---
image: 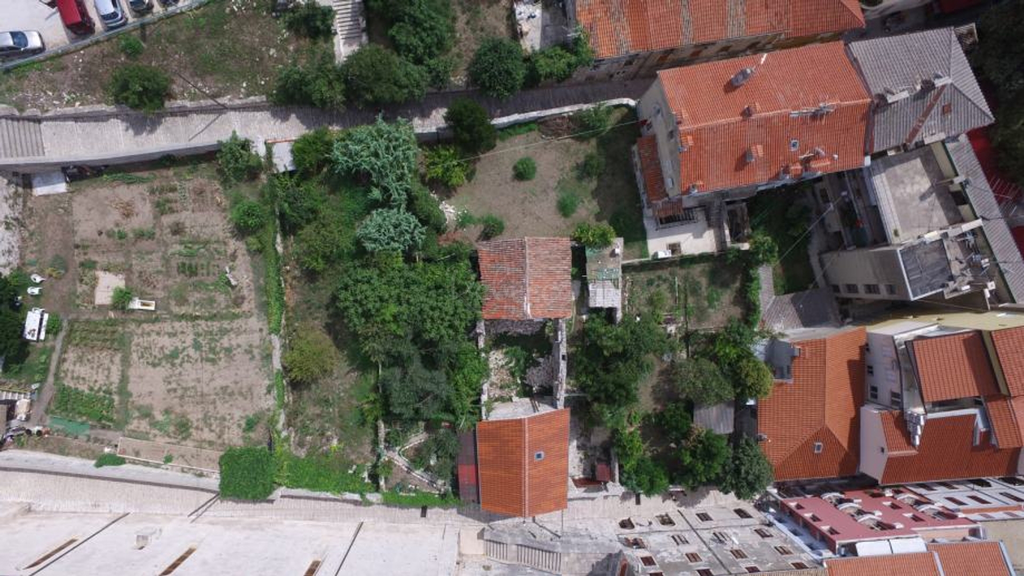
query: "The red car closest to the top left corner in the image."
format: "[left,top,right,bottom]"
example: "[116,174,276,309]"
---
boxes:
[55,0,99,42]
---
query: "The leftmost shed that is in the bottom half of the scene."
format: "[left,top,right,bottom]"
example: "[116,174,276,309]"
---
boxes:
[0,388,44,434]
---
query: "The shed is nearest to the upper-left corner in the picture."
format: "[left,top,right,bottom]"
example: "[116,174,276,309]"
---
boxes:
[31,171,74,196]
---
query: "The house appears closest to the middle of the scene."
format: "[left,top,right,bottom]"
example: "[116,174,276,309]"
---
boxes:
[477,238,572,321]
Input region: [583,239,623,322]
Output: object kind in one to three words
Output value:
shed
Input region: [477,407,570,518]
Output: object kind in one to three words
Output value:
house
